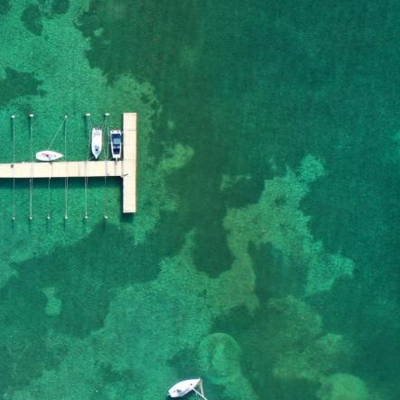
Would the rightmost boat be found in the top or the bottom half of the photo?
bottom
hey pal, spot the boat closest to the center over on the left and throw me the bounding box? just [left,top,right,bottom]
[109,128,122,159]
